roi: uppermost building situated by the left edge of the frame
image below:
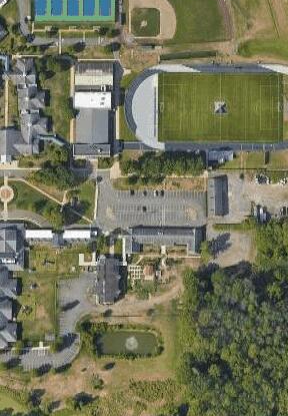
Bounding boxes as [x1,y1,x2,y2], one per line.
[0,60,48,163]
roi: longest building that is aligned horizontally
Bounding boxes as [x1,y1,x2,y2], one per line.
[123,226,207,253]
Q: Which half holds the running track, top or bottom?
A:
top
